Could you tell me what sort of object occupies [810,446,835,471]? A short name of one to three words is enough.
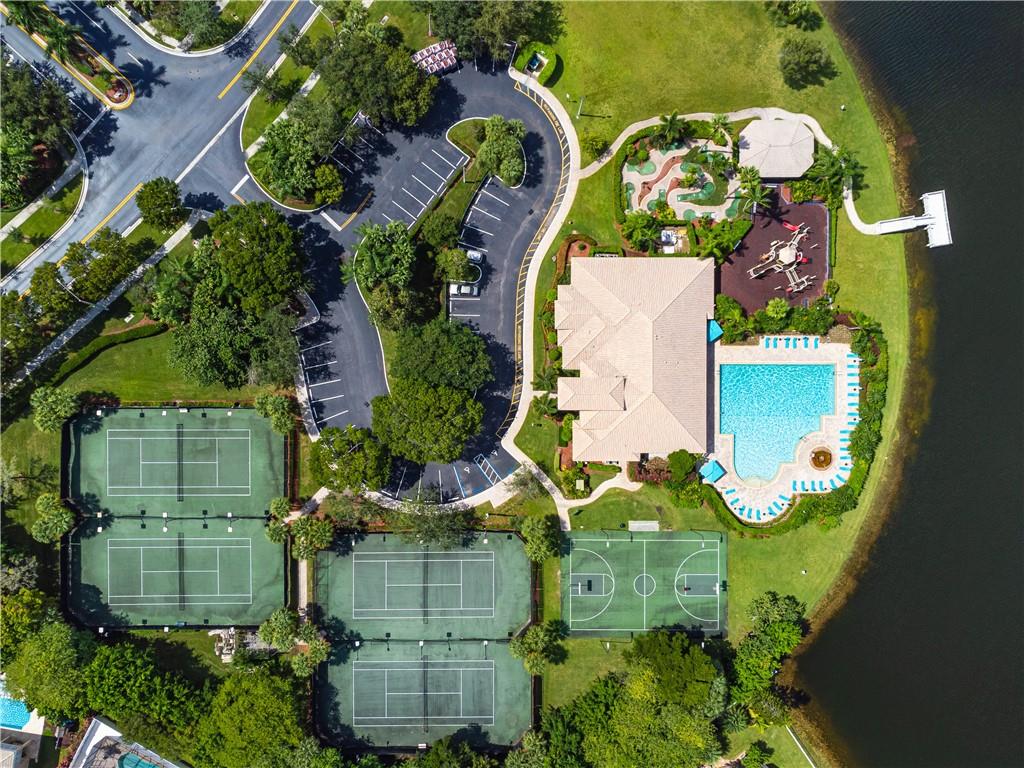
fountain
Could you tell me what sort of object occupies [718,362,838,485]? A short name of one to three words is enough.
swimming pool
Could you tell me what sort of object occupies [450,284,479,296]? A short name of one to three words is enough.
vehicle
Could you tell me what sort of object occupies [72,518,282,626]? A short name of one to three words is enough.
tennis court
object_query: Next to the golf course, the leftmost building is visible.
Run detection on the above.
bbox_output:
[555,257,715,467]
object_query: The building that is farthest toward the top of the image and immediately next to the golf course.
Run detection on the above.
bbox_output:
[735,120,814,181]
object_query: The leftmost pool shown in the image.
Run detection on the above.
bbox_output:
[0,695,32,733]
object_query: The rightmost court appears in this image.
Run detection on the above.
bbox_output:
[561,531,728,638]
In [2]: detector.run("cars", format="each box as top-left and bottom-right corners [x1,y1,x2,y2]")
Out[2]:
[450,284,479,296]
[456,247,483,264]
